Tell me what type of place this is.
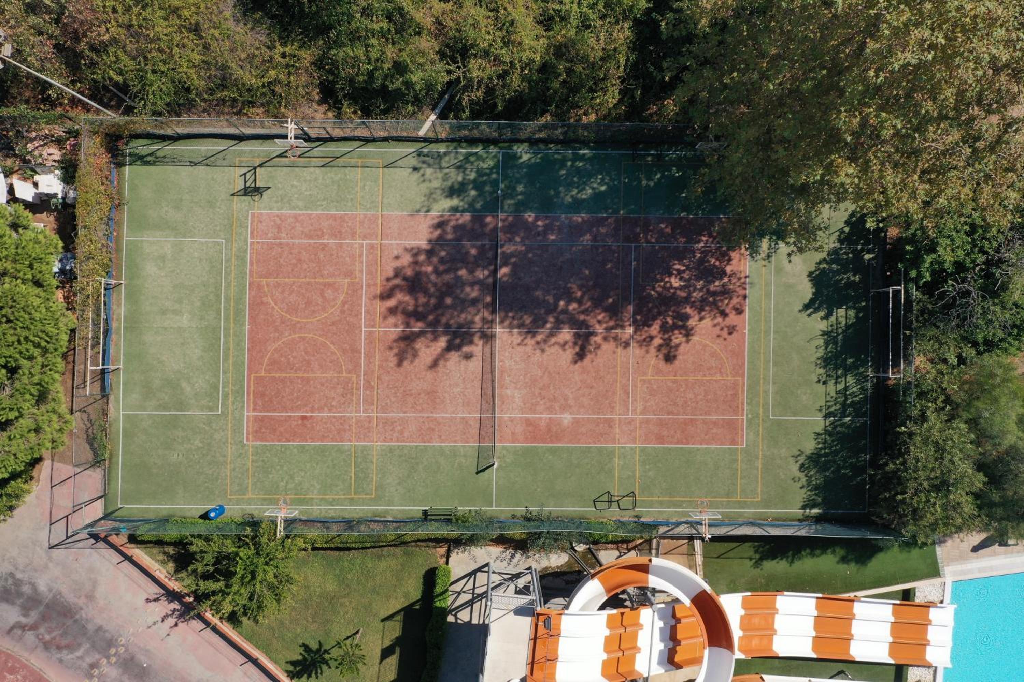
sports ground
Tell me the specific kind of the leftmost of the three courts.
basketball court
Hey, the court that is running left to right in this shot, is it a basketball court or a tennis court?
tennis court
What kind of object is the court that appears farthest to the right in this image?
basketball court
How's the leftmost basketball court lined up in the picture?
up and down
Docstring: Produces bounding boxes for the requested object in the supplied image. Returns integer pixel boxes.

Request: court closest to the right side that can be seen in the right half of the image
[616,161,766,501]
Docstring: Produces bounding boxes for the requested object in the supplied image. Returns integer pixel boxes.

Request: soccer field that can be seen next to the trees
[104,139,884,526]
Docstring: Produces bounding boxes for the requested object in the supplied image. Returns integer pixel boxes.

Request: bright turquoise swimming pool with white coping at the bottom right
[936,567,1024,682]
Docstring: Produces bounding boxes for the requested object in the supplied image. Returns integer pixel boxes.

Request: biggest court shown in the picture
[244,211,749,447]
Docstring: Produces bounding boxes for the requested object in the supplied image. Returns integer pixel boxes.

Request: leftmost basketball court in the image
[228,158,382,498]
